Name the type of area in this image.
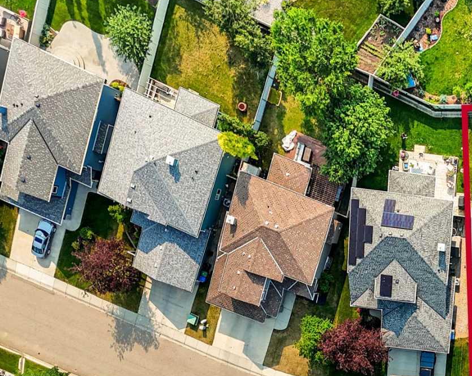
residential area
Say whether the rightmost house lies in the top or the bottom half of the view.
bottom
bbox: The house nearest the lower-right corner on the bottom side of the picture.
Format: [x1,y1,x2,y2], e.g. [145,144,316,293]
[348,168,456,354]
